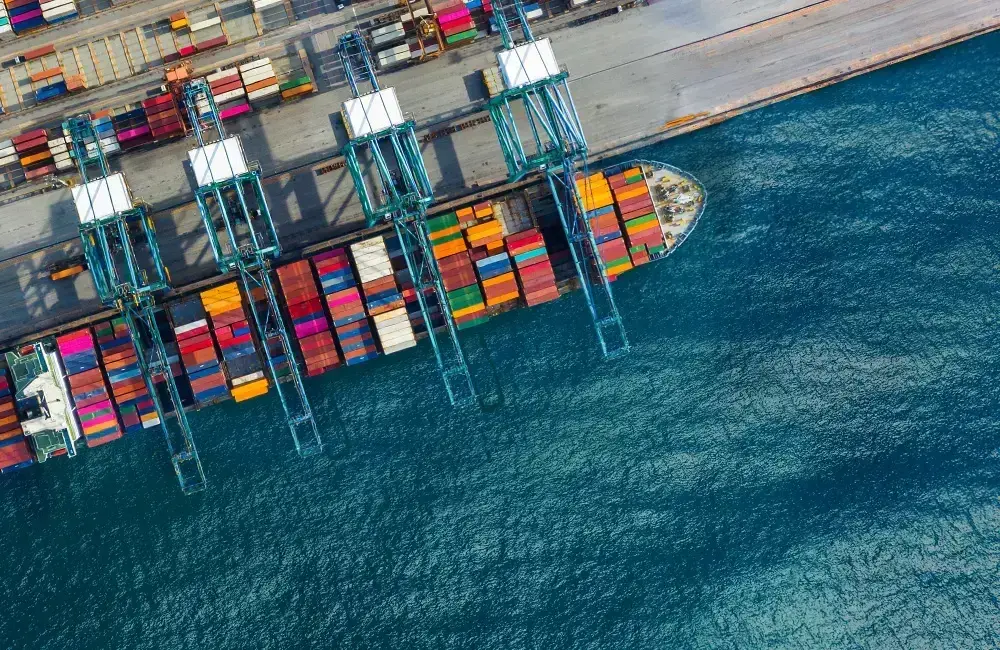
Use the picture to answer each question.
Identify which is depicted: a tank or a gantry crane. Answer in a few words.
gantry crane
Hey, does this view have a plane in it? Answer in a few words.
No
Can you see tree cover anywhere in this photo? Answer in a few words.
No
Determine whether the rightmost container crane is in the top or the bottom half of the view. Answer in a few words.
top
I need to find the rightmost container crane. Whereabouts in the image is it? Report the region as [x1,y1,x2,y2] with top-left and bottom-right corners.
[469,0,632,364]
